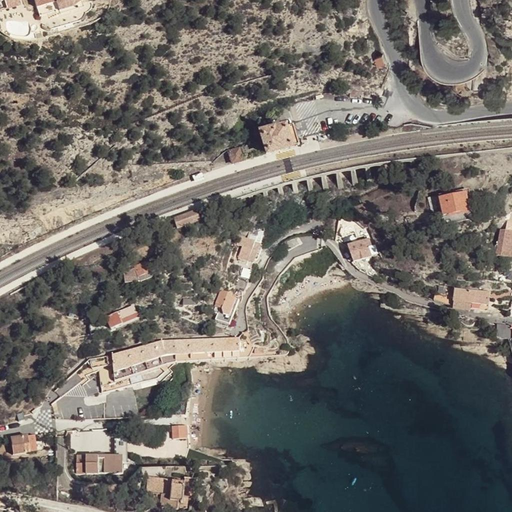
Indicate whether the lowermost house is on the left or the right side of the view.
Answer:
left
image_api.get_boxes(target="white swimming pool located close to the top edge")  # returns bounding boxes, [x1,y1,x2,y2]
[6,21,30,36]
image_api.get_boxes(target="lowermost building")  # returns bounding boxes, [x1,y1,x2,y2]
[147,476,191,510]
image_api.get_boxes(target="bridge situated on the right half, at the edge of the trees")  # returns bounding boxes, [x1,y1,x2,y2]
[220,146,512,200]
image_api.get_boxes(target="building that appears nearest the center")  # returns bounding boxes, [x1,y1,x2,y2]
[238,230,263,282]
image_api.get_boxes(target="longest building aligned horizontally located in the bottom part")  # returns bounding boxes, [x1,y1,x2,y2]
[82,338,241,390]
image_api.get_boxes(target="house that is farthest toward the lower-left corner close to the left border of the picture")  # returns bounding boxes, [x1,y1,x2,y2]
[10,434,38,456]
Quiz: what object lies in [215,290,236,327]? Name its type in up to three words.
house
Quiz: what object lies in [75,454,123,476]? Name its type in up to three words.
house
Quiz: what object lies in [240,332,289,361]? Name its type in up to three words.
building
